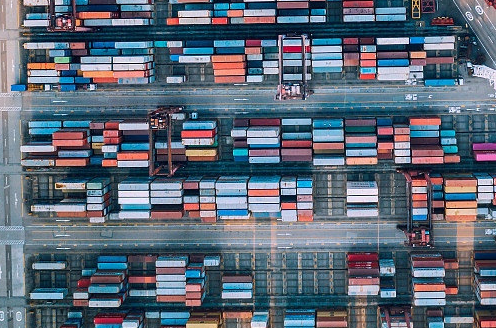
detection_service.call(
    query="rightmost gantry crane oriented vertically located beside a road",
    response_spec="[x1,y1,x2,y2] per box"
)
[396,163,435,244]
